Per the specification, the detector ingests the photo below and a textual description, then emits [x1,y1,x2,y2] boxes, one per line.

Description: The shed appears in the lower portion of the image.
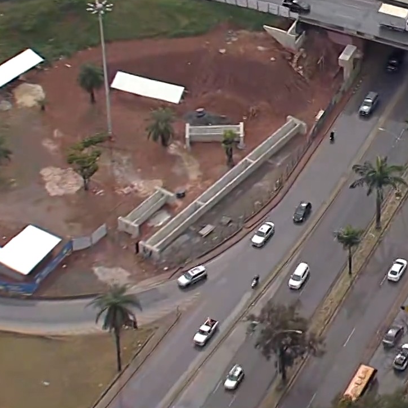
[0,225,61,284]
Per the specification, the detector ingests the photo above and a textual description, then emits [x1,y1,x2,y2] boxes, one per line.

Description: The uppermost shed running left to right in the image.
[112,72,184,116]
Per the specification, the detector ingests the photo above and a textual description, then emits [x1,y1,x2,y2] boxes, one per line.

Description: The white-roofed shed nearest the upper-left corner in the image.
[0,48,43,86]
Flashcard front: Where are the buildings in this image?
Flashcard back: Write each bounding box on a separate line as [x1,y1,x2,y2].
[0,48,43,86]
[0,225,61,284]
[112,72,184,116]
